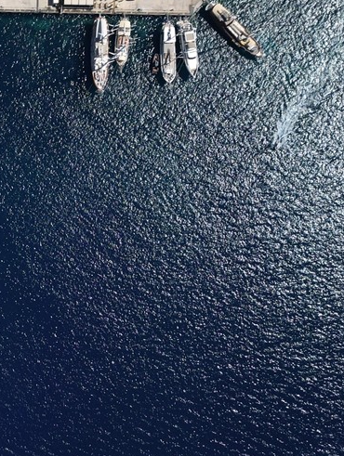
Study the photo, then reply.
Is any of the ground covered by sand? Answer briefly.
No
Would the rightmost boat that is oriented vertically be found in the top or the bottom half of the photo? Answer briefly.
top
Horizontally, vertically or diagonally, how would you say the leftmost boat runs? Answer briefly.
vertically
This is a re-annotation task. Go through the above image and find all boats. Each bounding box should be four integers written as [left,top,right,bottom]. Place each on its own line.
[93,17,118,90]
[115,20,137,73]
[177,22,206,77]
[152,52,161,74]
[207,0,271,57]
[160,23,189,83]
